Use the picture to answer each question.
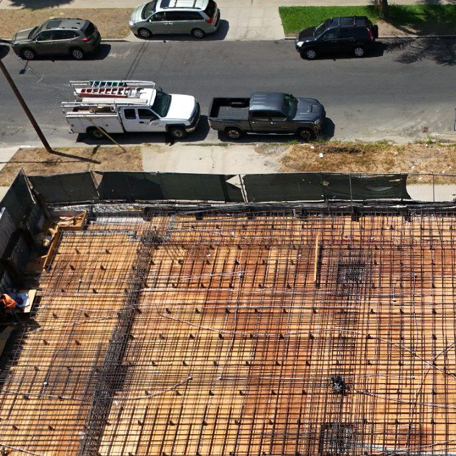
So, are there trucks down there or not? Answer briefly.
Yes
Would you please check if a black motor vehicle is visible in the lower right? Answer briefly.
No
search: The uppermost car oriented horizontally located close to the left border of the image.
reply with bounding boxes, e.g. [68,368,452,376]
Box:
[9,14,105,59]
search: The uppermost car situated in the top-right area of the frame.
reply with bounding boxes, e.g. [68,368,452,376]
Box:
[292,13,383,58]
